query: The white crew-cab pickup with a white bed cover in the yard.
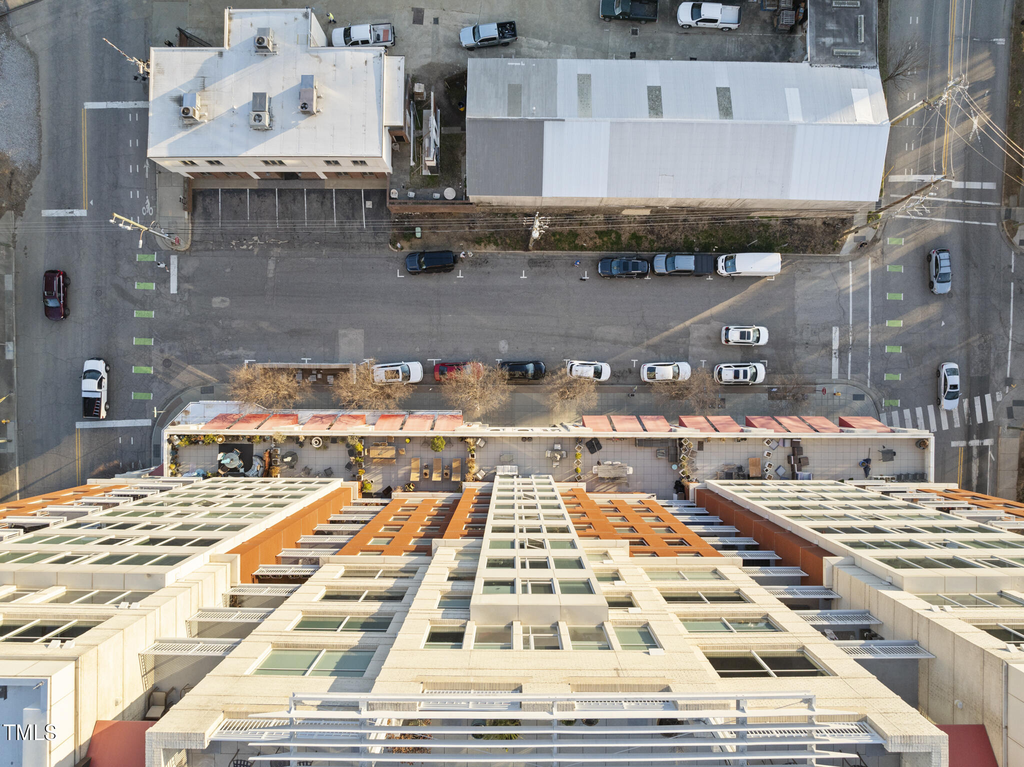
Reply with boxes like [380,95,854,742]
[676,1,742,32]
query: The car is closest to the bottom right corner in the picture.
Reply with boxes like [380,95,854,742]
[933,361,960,410]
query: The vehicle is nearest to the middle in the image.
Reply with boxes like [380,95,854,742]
[500,360,546,382]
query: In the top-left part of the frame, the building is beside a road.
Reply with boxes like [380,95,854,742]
[146,5,413,180]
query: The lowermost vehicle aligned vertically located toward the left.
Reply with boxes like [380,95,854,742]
[81,357,111,419]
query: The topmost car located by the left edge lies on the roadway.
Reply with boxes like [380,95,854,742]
[42,269,72,321]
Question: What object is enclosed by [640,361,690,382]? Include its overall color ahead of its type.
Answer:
white car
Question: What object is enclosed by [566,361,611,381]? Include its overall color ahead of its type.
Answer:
white car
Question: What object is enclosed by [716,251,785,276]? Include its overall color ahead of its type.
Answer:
white vehicle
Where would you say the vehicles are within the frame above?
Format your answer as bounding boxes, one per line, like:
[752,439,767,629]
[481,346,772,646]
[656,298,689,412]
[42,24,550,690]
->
[333,22,395,50]
[81,357,111,419]
[652,253,714,277]
[500,360,546,382]
[716,251,785,276]
[926,249,953,295]
[719,324,767,346]
[459,22,518,52]
[566,361,611,381]
[597,255,650,280]
[599,0,658,23]
[933,361,960,410]
[373,361,424,384]
[407,250,458,273]
[42,269,72,321]
[712,361,765,385]
[676,1,742,32]
[640,361,690,382]
[433,360,484,383]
